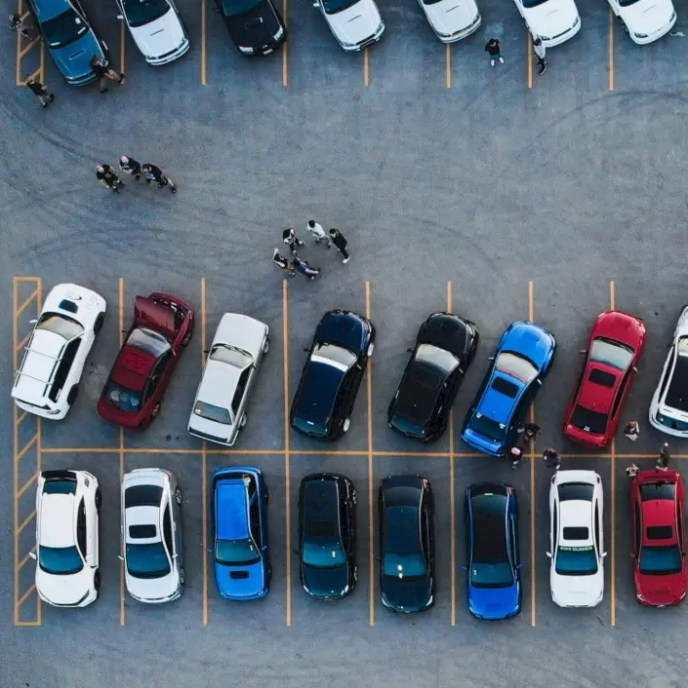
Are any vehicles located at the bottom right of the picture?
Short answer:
Yes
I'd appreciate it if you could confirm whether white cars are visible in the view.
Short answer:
Yes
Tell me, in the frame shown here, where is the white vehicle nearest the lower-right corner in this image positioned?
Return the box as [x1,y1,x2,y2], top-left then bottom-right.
[544,471,611,609]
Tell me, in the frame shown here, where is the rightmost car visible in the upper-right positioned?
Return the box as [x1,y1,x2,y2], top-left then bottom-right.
[606,0,674,49]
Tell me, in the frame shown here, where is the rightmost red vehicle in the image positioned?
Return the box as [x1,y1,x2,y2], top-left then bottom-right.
[628,471,688,608]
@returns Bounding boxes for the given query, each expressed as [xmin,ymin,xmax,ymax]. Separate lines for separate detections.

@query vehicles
[544,471,611,609]
[207,0,280,61]
[10,0,100,92]
[651,307,688,441]
[13,283,106,423]
[207,467,271,602]
[29,472,103,609]
[514,0,582,52]
[606,0,674,49]
[563,309,644,451]
[309,0,378,58]
[628,471,688,608]
[187,310,271,449]
[373,477,439,614]
[463,319,551,460]
[460,485,526,622]
[390,311,474,445]
[109,0,189,72]
[116,469,185,605]
[293,474,358,600]
[98,293,193,432]
[412,0,478,49]
[292,309,370,444]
